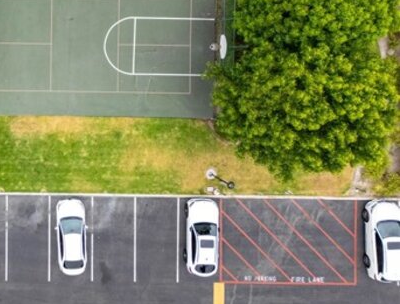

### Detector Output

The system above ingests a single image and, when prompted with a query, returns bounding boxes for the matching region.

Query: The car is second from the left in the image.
[183,198,224,278]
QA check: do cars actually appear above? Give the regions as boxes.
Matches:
[183,198,224,278]
[53,197,90,279]
[361,196,400,283]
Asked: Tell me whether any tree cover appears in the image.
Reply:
Yes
